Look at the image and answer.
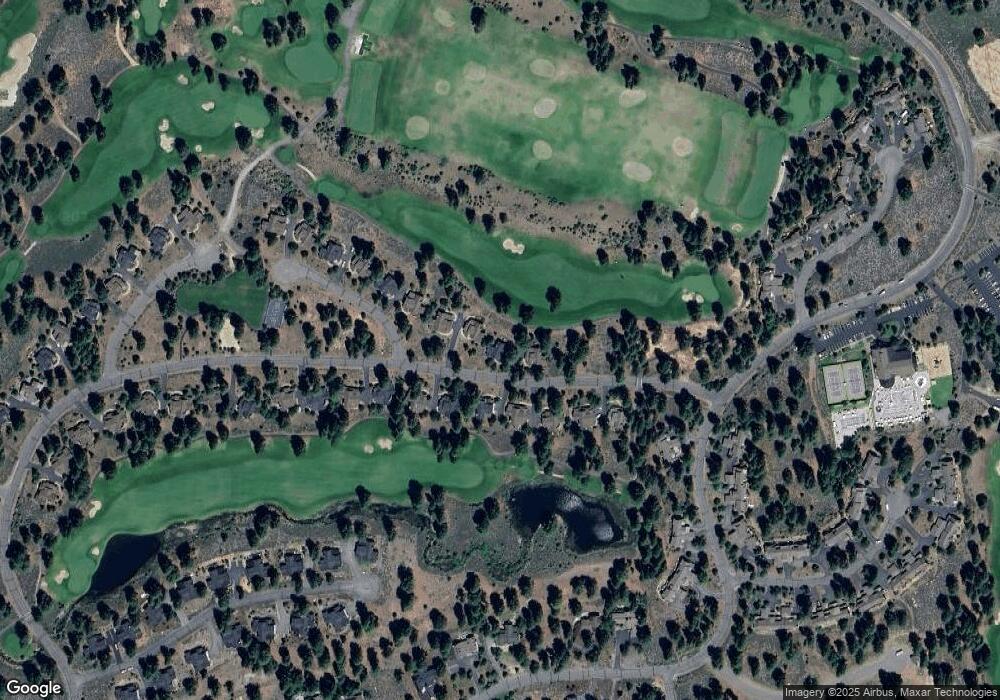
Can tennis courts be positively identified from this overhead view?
Yes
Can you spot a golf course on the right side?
Yes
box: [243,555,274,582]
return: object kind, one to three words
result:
house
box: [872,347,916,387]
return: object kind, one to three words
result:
building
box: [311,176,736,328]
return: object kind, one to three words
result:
golf course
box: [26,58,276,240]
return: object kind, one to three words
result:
golf course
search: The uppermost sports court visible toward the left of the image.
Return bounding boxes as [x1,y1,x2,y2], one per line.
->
[265,299,286,328]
